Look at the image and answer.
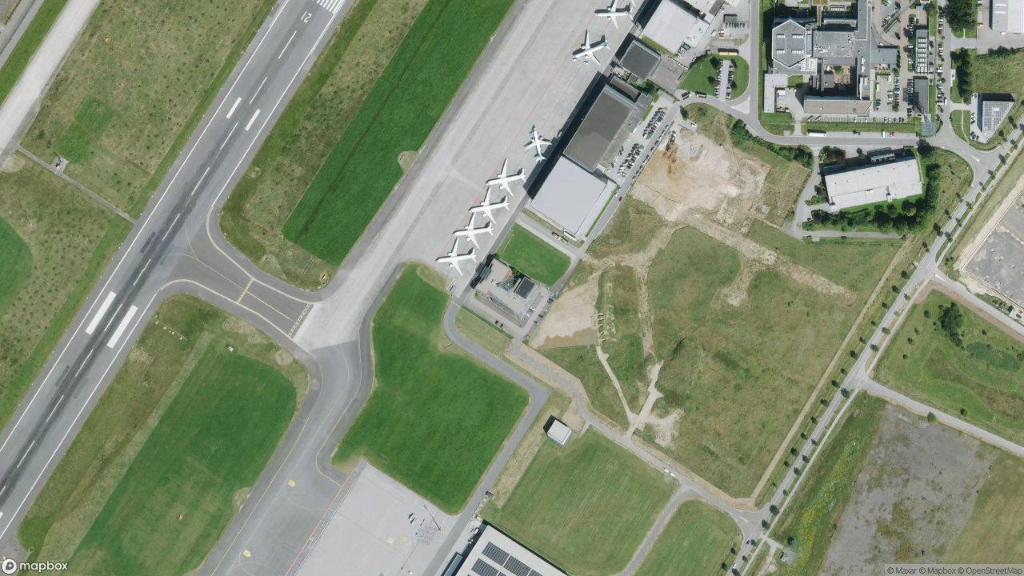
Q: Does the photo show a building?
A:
Yes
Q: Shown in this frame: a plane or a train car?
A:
plane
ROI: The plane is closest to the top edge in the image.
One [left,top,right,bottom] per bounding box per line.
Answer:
[595,0,635,33]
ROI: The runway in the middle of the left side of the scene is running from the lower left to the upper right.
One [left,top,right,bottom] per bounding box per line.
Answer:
[0,0,356,557]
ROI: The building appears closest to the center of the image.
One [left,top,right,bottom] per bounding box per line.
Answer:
[470,258,544,319]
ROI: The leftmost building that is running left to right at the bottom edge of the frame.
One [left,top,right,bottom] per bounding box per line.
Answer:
[455,524,572,576]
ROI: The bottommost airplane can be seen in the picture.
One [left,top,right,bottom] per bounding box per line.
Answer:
[436,239,477,277]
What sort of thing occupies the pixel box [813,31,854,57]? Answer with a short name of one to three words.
building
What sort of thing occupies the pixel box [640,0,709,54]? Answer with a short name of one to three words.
hangar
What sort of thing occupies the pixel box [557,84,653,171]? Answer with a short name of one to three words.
hangar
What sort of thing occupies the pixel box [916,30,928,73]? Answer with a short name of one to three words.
building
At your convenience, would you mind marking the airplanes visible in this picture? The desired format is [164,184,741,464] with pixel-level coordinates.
[595,0,635,33]
[453,212,493,249]
[436,239,477,277]
[525,128,552,160]
[573,31,609,66]
[469,188,509,225]
[487,160,527,197]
